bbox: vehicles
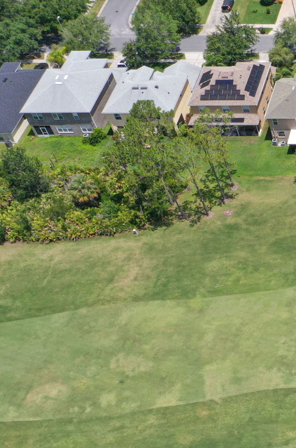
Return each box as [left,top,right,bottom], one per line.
[114,58,126,72]
[221,0,233,11]
[32,58,50,70]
